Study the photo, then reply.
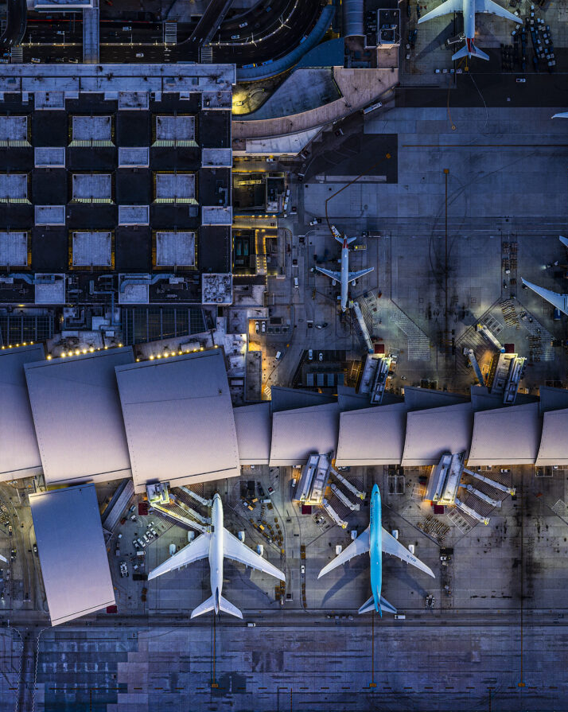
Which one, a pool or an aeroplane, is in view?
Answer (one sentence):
Looking from above, you can make out an aeroplane.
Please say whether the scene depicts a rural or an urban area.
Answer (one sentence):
This place is urban.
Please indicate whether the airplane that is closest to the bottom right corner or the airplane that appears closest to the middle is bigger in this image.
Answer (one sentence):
The airplane that is closest to the bottom right corner is bigger than the airplane that appears closest to the middle.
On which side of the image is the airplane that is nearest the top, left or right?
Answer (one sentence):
The airplane that is nearest the top sits on the right side.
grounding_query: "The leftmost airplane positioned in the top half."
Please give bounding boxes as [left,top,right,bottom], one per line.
[314,235,373,312]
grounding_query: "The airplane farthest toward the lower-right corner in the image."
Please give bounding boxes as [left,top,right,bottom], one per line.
[317,483,434,617]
